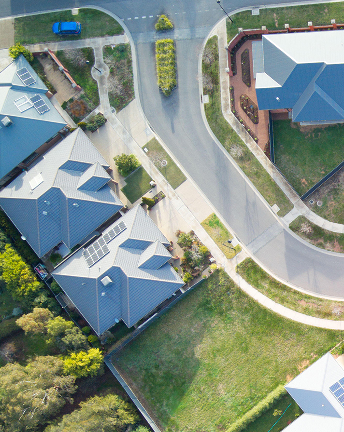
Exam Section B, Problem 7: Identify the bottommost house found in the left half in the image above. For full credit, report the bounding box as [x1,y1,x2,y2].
[54,203,187,335]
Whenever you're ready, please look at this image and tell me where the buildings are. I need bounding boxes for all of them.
[0,54,73,179]
[281,352,344,432]
[253,29,344,123]
[0,126,128,259]
[54,203,187,335]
